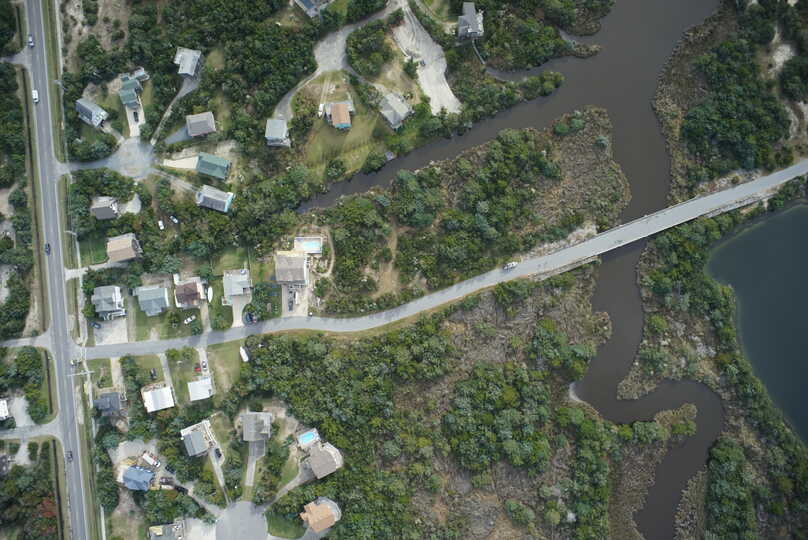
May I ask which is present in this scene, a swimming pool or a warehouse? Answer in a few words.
swimming pool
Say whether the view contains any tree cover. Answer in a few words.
Yes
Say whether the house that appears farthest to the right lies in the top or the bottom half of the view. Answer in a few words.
top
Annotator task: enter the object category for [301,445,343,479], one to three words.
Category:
house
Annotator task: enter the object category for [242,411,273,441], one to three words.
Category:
house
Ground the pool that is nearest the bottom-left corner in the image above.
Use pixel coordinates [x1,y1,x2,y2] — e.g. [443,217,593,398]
[296,429,322,451]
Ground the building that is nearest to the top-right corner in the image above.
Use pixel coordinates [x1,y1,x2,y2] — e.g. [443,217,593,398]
[457,0,485,39]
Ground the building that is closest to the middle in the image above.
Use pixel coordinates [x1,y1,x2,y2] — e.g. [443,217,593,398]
[275,250,309,287]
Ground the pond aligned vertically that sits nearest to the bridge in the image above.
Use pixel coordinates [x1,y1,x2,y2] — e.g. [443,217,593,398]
[705,203,808,448]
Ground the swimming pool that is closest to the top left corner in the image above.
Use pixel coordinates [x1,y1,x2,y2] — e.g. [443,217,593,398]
[294,236,321,253]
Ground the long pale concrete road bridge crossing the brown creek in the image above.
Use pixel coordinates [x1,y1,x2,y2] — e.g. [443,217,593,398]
[587,197,703,254]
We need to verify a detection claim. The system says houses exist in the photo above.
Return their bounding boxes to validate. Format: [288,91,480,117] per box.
[221,269,253,305]
[194,184,235,212]
[185,111,218,140]
[92,287,126,320]
[173,274,205,308]
[90,197,122,219]
[298,496,341,531]
[172,47,204,77]
[107,231,144,261]
[133,284,170,315]
[188,376,215,399]
[326,100,356,130]
[0,396,14,419]
[378,92,413,129]
[275,250,309,287]
[242,411,273,441]
[301,445,343,479]
[0,455,17,478]
[122,459,158,491]
[179,420,219,456]
[140,382,177,411]
[74,96,110,126]
[118,66,150,111]
[196,152,234,178]
[457,0,485,39]
[148,517,187,540]
[266,119,290,146]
